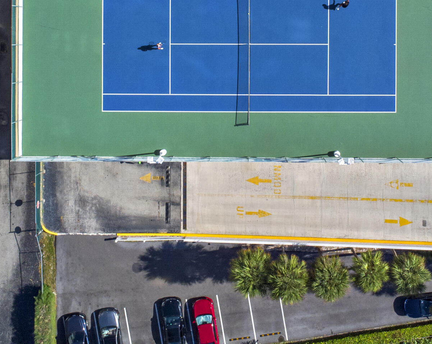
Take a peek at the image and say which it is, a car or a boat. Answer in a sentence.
Of the two, only a car appears.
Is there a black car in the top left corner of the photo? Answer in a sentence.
No, no black car can be made out in the top left corner of the photo.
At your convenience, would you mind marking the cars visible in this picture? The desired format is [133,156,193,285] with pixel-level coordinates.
[404,294,432,321]
[193,296,220,344]
[101,308,127,344]
[67,312,92,344]
[163,298,190,344]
